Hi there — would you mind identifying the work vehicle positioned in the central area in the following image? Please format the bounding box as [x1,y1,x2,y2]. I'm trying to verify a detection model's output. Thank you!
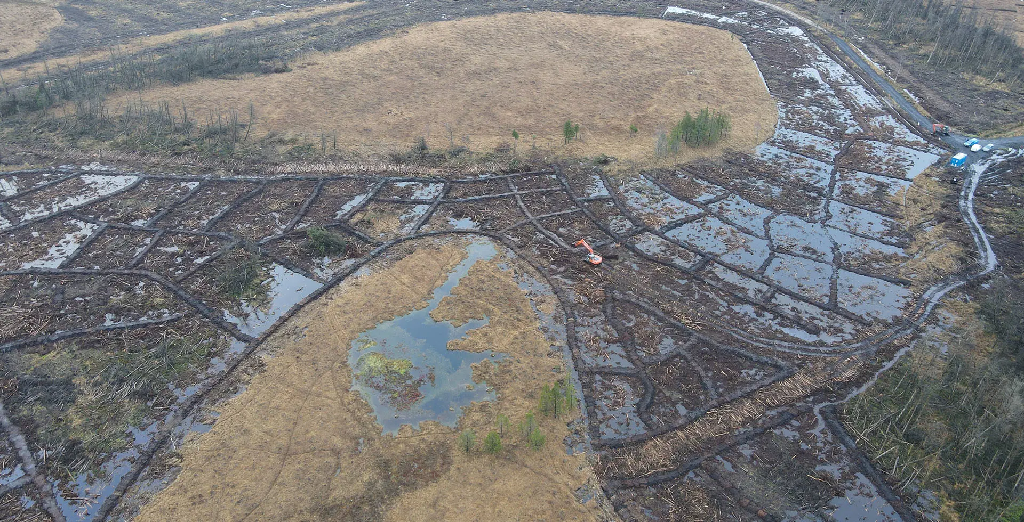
[574,236,605,267]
